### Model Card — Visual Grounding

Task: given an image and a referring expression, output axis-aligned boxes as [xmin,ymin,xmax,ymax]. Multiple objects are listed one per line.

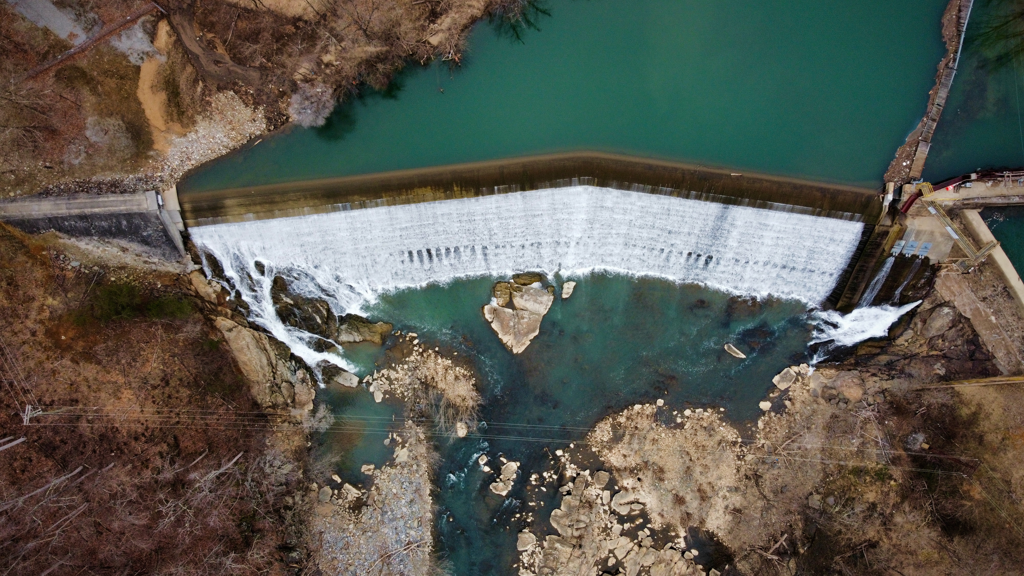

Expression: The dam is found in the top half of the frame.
[186,146,880,303]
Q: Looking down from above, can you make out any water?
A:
Yes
